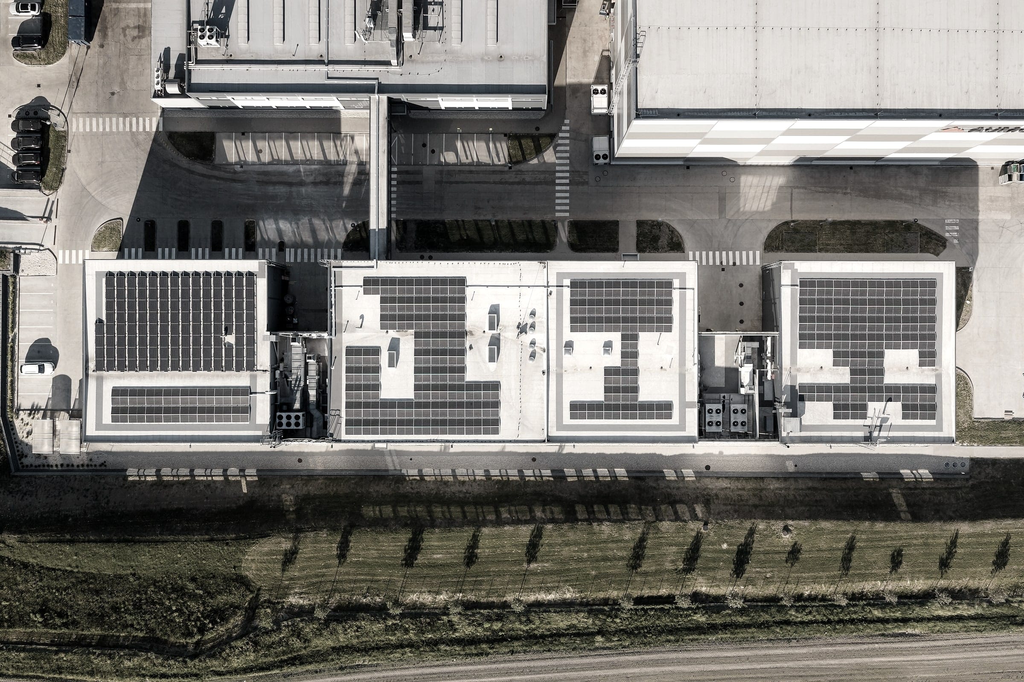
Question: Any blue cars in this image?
No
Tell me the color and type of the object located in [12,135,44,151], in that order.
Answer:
black car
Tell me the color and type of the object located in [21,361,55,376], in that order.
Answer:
white car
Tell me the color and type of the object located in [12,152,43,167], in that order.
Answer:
black car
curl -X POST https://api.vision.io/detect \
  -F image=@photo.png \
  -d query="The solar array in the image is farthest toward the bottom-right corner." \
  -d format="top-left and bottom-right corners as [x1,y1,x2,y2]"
[798,281,936,420]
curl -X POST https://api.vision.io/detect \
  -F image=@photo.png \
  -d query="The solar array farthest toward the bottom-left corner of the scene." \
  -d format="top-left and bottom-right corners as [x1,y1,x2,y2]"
[112,389,250,423]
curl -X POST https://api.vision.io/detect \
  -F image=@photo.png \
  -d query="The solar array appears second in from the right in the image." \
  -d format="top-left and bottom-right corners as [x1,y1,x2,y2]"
[570,281,672,420]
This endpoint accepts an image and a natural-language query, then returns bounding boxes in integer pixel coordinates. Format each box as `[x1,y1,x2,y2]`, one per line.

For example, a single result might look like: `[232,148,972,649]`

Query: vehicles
[12,135,44,151]
[21,361,55,376]
[12,35,44,51]
[12,118,44,134]
[598,0,608,20]
[12,169,44,185]
[12,152,43,167]
[10,0,42,17]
